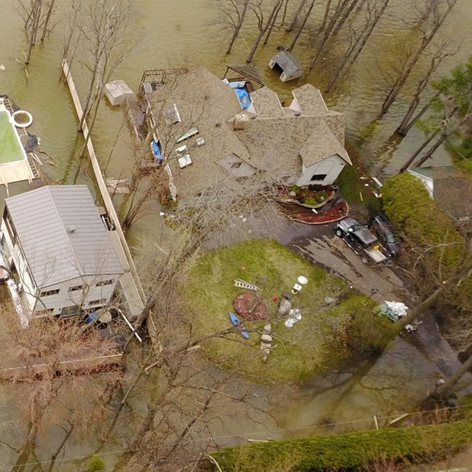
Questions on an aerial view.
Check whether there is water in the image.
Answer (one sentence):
Yes, the picture does contain water.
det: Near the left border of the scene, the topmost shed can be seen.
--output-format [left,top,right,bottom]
[0,183,127,315]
